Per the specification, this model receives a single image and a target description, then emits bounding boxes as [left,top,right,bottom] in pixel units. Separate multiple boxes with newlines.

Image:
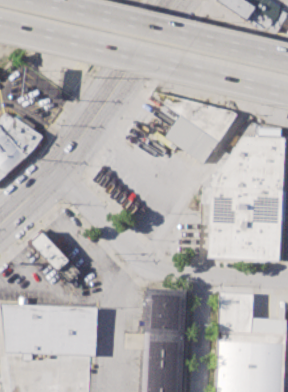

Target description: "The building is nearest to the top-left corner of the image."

[0,113,42,180]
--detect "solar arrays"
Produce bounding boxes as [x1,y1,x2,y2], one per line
[254,198,278,222]
[214,198,234,222]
